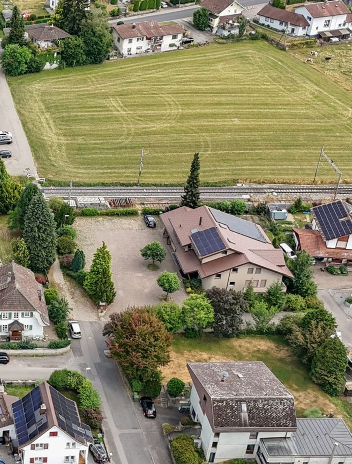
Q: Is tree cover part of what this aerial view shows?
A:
Yes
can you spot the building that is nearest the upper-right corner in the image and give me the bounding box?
[289,0,352,36]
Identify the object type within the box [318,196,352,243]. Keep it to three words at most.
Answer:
solar array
